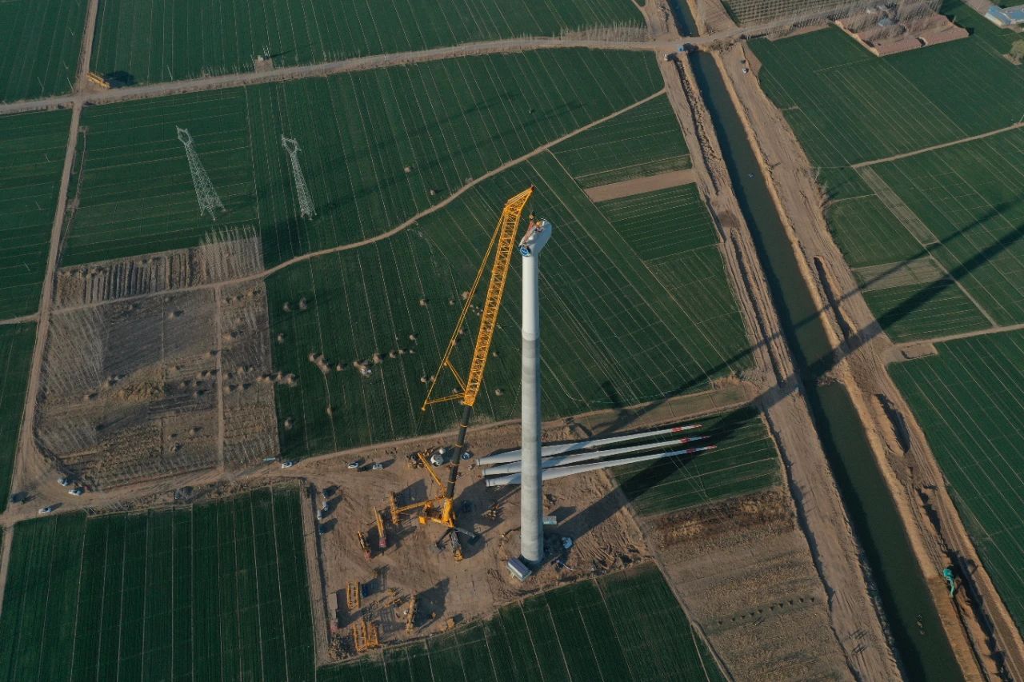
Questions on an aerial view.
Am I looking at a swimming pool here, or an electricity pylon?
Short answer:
electricity pylon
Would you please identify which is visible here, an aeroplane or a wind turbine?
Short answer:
wind turbine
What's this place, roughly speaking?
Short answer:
parking lot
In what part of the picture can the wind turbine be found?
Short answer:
center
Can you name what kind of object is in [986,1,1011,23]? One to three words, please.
building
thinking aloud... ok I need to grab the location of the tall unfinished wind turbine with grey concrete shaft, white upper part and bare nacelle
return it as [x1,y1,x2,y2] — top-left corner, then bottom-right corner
[517,214,552,566]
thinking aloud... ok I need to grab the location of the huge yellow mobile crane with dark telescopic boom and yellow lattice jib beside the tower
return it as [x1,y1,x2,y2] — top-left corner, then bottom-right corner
[395,185,535,556]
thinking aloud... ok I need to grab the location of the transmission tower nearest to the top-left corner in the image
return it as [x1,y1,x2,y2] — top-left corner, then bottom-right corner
[174,123,225,219]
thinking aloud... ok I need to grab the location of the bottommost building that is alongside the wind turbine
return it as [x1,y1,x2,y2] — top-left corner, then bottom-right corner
[506,557,531,584]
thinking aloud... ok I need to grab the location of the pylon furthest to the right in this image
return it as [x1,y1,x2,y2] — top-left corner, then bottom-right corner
[279,132,321,223]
